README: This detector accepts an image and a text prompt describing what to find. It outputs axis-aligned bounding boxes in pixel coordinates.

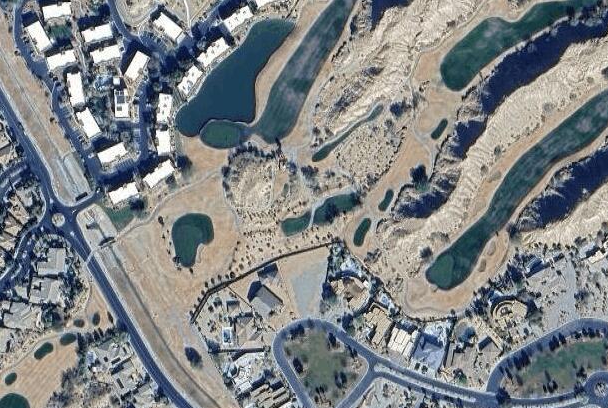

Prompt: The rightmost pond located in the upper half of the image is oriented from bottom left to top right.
[176,20,290,137]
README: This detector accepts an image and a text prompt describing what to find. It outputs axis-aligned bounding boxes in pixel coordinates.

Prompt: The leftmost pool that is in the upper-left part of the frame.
[97,77,113,91]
